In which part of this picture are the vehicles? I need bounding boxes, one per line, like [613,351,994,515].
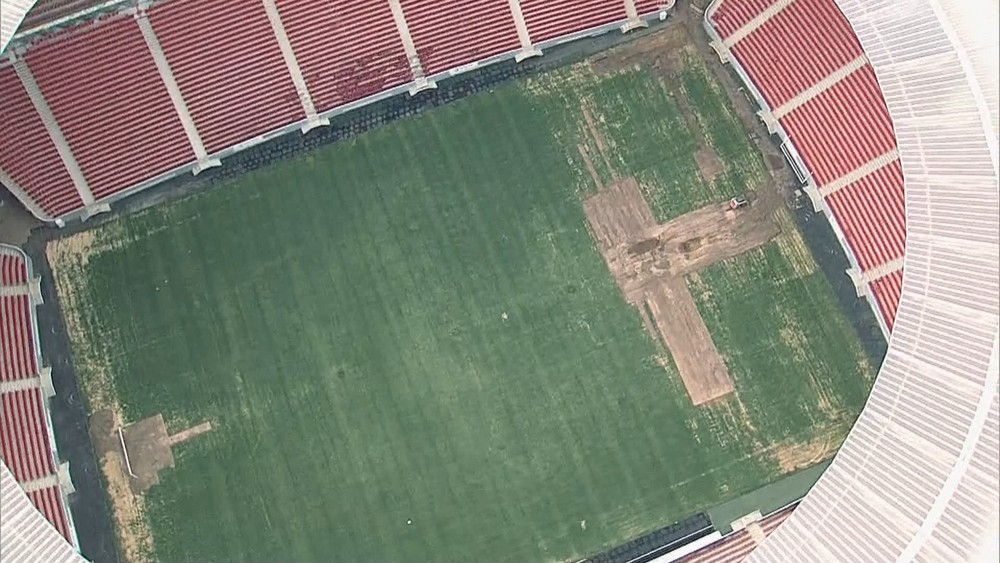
[729,192,753,210]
